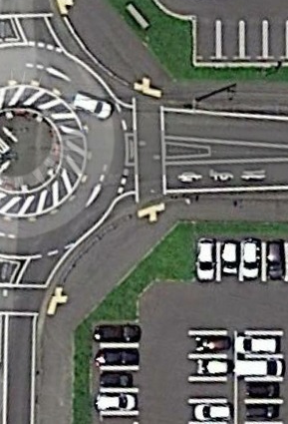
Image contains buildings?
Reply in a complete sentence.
No, I can't see a single building in this photo.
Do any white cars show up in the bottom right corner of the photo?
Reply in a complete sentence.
Yes, the scene does show a white car in the bottom right corner of the photo.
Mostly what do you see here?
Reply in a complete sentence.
Most of the picture is covered by paved ground.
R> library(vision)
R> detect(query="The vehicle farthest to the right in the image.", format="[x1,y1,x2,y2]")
[268,242,286,280]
